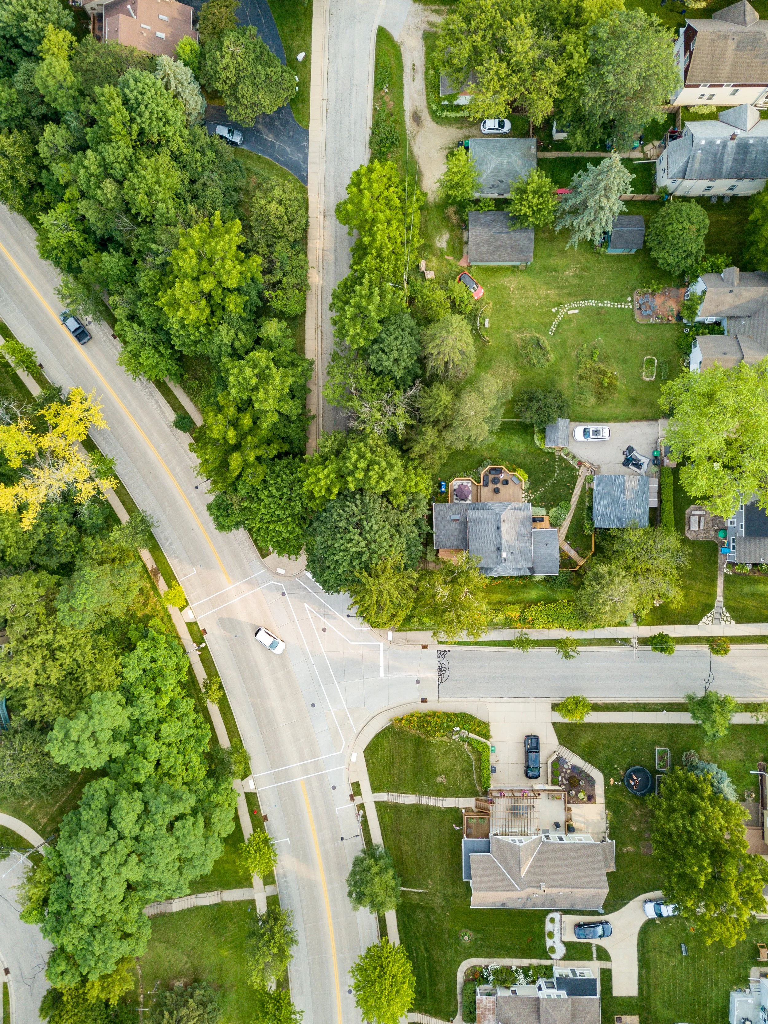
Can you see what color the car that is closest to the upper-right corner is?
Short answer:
white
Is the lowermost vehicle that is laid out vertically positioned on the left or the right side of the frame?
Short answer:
right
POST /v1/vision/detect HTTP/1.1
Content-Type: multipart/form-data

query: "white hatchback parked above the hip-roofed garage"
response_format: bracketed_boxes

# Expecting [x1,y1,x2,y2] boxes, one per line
[480,116,511,136]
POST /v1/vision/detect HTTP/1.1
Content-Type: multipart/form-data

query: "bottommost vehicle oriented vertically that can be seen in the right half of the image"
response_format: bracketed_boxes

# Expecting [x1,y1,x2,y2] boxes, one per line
[523,734,543,779]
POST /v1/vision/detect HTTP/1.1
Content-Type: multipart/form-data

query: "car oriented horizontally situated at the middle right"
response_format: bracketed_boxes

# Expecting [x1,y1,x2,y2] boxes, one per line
[572,424,611,442]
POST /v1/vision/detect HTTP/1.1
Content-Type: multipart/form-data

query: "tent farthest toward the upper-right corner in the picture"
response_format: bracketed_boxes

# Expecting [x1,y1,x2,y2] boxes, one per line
[622,445,650,475]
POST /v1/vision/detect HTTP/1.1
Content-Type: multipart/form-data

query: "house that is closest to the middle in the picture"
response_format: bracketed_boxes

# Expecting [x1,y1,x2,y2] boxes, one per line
[433,503,559,575]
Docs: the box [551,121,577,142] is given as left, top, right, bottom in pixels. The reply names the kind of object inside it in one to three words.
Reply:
shed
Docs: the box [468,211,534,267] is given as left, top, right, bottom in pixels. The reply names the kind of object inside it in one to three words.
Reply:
building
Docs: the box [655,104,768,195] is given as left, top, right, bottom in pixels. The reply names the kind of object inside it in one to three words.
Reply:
house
